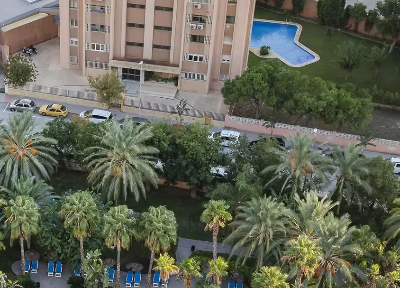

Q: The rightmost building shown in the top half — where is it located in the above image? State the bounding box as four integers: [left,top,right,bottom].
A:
[60,0,273,107]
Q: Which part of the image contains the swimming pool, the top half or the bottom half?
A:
top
